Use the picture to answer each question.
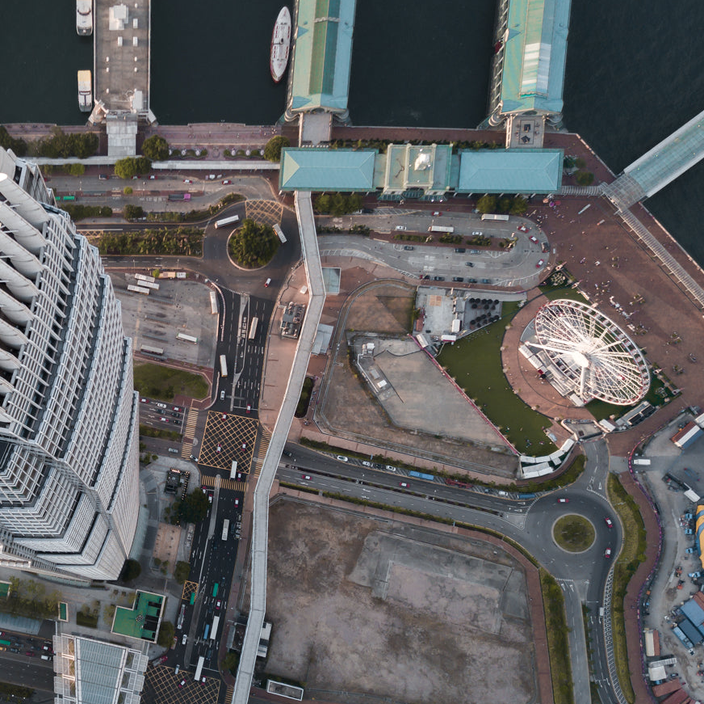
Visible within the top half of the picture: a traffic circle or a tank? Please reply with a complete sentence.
There is a traffic circle within the top half of the picture.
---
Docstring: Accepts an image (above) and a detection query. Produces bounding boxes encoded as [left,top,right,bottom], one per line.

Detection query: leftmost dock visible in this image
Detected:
[86,0,157,142]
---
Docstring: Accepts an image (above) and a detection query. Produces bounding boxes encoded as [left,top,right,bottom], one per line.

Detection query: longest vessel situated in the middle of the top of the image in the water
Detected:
[269,8,290,90]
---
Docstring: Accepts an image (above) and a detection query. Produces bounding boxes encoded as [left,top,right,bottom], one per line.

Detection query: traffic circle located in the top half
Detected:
[226,217,280,271]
